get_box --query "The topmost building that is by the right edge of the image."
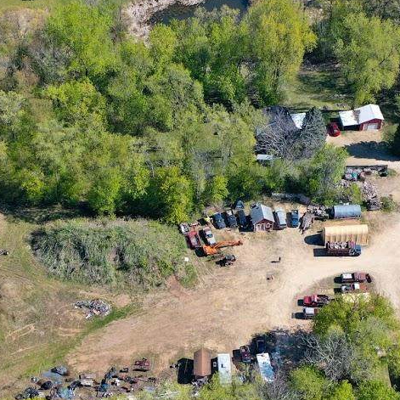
[340,104,387,129]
